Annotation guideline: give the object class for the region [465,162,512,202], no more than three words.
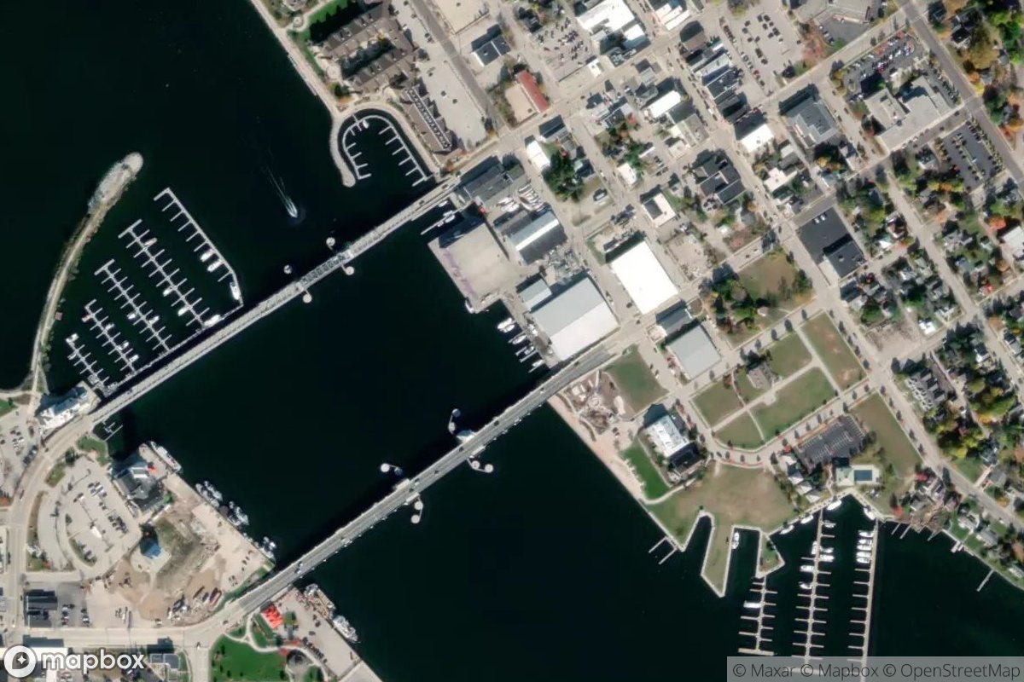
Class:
shed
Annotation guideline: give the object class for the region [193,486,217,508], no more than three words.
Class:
boat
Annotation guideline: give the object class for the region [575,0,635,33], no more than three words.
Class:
building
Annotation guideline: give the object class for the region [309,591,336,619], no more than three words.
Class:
ship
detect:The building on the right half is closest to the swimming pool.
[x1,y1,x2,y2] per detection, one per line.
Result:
[836,467,854,486]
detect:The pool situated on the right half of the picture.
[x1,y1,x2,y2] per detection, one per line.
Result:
[852,465,879,485]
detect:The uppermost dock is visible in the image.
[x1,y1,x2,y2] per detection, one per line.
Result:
[343,114,432,186]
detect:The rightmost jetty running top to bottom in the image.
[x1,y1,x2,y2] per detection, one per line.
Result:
[843,518,878,682]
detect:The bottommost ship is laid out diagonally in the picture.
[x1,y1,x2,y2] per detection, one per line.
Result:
[333,619,360,646]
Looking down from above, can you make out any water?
Yes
